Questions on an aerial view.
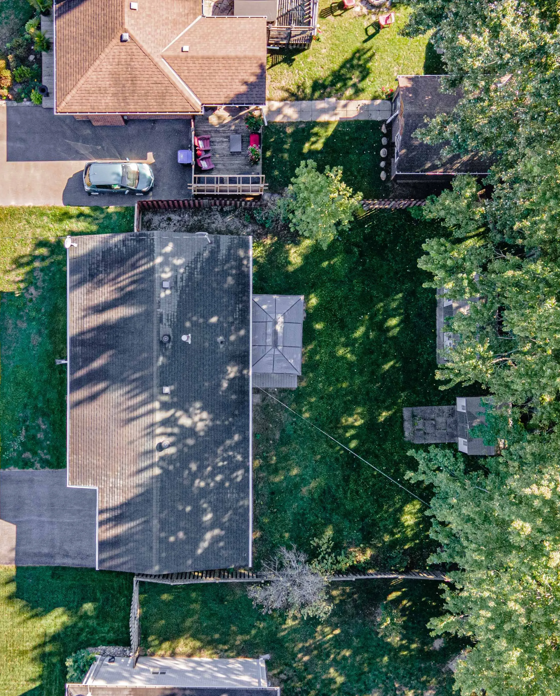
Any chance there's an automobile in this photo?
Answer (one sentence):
Yes, I can see an automobile in this picture.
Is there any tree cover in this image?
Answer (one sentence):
Yes, some tree cover is visible.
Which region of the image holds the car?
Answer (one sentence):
Look in the top left portion of the view to spot the car.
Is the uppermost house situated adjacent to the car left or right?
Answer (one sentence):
You can find the uppermost house situated adjacent to the car on the left side of the picture.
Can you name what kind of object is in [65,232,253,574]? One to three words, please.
house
